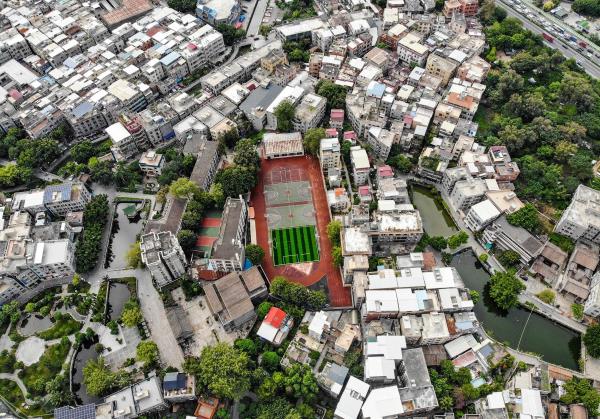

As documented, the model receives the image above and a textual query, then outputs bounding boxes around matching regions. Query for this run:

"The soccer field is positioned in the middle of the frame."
[272,226,319,265]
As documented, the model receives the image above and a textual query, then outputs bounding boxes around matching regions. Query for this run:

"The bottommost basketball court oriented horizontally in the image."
[267,205,315,229]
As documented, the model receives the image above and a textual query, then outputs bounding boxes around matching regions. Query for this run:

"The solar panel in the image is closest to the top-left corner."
[43,183,74,203]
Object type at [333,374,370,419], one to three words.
building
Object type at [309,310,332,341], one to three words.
house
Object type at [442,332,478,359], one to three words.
shed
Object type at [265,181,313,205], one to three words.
basketball court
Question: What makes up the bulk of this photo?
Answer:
buildings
